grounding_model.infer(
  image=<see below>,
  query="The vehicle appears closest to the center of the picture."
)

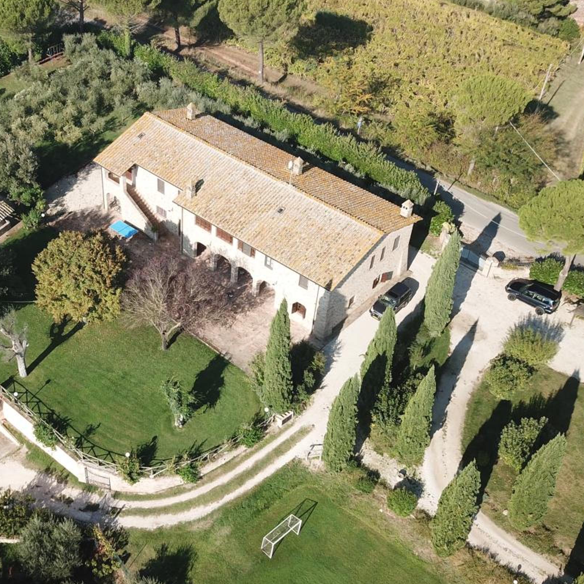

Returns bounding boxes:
[370,277,419,322]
